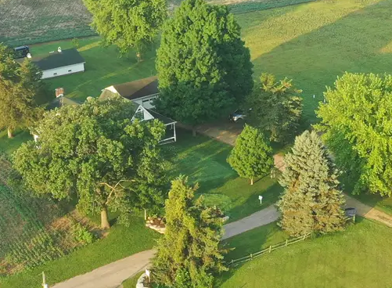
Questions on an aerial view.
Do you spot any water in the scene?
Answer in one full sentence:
No, there's no water in this view.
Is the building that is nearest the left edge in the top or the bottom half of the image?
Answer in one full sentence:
The top half of the photo is where the building that is nearest the left edge is.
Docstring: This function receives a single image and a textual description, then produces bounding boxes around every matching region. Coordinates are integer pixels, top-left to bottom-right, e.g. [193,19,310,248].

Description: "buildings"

[9,45,86,80]
[99,72,177,142]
